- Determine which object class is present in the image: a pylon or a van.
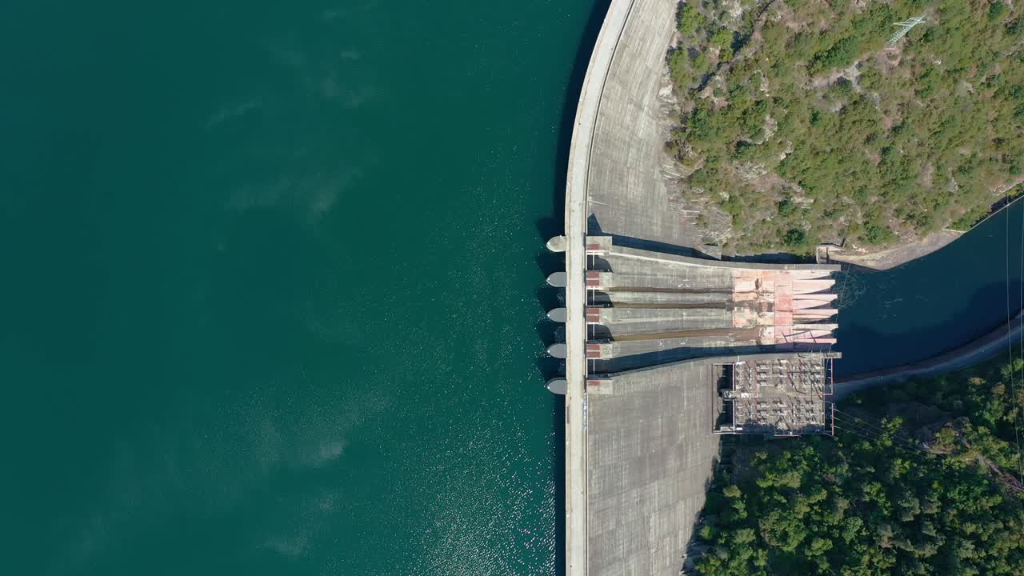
pylon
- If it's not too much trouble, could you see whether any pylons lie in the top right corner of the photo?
Yes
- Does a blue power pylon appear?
No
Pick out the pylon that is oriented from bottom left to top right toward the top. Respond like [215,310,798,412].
[882,16,930,52]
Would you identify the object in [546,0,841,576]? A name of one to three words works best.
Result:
dam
